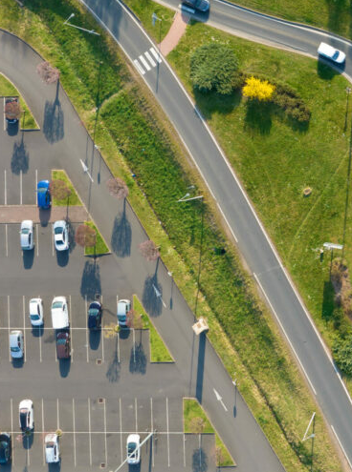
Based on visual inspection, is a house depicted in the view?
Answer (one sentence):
No, there's no house here.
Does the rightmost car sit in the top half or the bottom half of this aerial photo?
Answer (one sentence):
Seen from above, the rightmost car lies in the top half of the view.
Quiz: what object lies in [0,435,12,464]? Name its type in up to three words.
vehicle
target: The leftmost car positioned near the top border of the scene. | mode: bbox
[179,0,210,13]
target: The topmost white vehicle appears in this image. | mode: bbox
[316,43,345,64]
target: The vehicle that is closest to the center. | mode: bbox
[115,300,131,327]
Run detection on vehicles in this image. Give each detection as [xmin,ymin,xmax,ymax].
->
[55,330,72,361]
[18,402,35,431]
[36,181,52,208]
[28,299,45,325]
[0,435,12,464]
[44,434,61,464]
[52,296,70,330]
[19,223,36,249]
[9,330,25,358]
[316,43,345,64]
[115,300,131,327]
[54,221,70,252]
[179,0,210,13]
[87,301,103,329]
